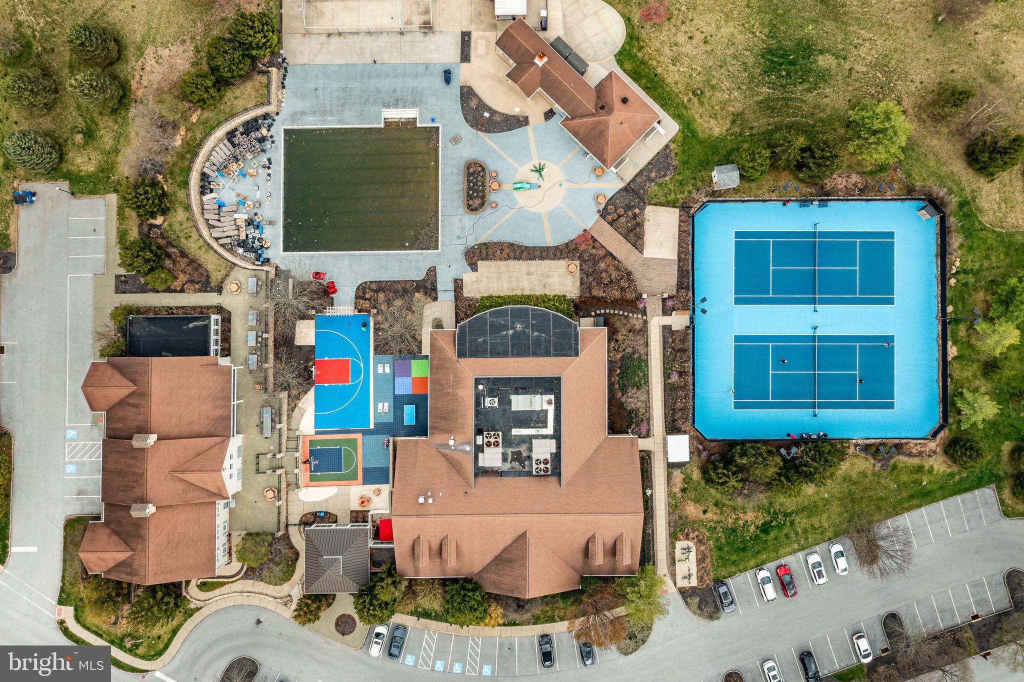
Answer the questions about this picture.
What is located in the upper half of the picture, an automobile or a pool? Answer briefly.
pool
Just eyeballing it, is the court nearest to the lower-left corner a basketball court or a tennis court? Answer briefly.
basketball court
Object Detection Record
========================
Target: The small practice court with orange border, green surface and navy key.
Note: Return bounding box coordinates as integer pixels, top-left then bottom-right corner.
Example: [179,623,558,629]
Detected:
[303,434,362,487]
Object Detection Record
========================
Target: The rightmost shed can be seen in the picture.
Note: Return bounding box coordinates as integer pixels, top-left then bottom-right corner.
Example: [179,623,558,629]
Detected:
[711,165,740,191]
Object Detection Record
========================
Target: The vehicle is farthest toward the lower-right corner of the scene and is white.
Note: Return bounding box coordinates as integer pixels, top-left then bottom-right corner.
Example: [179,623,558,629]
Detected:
[851,631,872,665]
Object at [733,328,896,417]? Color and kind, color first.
blue tennis court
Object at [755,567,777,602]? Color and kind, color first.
white car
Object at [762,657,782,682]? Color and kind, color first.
white car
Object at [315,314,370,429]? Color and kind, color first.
blue basketball court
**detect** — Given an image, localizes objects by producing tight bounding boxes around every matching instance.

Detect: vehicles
[762,657,782,682]
[388,625,407,659]
[799,651,820,682]
[851,631,872,665]
[755,567,777,602]
[538,634,554,668]
[369,623,388,658]
[806,552,827,586]
[714,580,735,613]
[578,637,595,670]
[828,541,848,575]
[776,564,797,598]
